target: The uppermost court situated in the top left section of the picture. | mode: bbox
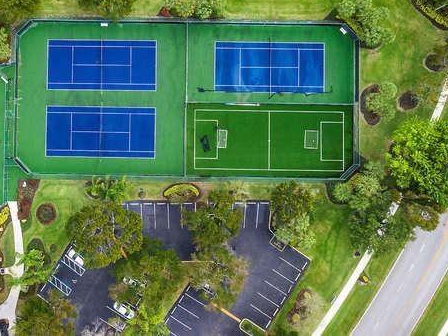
[47,40,157,91]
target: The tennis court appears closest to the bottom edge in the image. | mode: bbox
[46,106,155,159]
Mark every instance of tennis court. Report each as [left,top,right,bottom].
[47,40,157,91]
[46,106,155,159]
[215,42,325,93]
